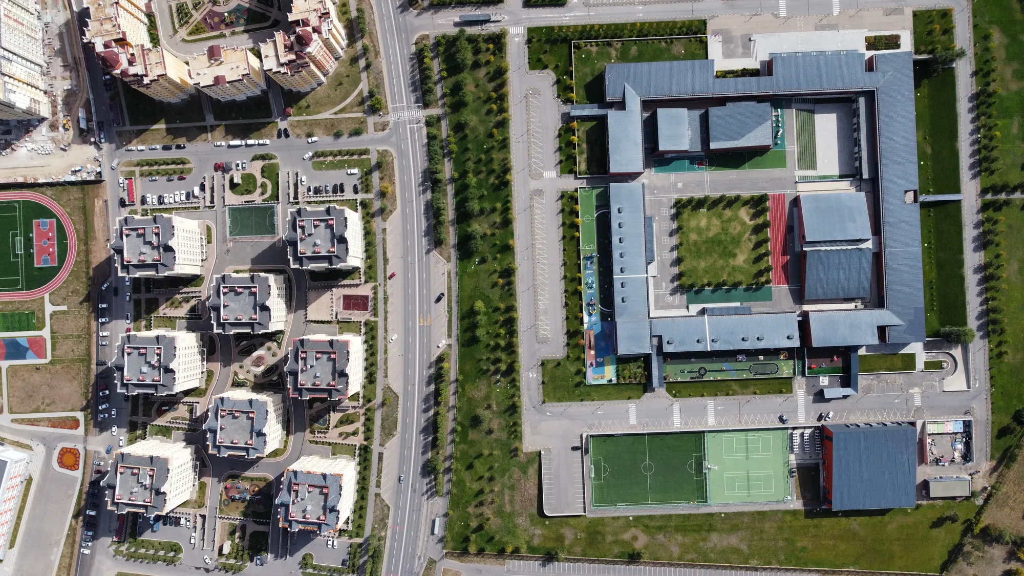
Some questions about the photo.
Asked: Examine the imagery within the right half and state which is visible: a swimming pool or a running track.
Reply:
running track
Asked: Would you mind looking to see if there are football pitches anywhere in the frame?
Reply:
Yes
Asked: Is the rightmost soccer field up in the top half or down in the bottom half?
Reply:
bottom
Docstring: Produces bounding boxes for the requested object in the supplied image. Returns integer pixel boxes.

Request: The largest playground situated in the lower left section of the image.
[222,478,272,512]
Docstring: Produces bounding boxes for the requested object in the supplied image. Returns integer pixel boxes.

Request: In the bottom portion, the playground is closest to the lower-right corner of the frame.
[807,347,850,375]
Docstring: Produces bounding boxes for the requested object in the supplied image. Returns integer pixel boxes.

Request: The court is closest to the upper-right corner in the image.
[704,149,786,172]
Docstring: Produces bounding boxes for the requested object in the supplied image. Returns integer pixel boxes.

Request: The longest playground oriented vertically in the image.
[579,185,617,385]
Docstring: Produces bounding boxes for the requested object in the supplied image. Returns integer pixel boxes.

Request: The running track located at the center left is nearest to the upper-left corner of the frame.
[0,191,77,300]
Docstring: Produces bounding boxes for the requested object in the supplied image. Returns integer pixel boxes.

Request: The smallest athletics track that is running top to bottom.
[770,193,789,286]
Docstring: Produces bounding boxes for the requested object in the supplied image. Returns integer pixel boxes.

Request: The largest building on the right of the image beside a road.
[603,50,926,354]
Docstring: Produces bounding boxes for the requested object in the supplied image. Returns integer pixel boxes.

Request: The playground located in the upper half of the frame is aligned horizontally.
[195,3,263,31]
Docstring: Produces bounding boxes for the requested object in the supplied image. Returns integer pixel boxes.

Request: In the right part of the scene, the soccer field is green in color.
[590,432,708,508]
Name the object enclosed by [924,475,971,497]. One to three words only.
shed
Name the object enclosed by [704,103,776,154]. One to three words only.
building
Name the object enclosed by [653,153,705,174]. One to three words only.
sports court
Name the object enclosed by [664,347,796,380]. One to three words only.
playground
